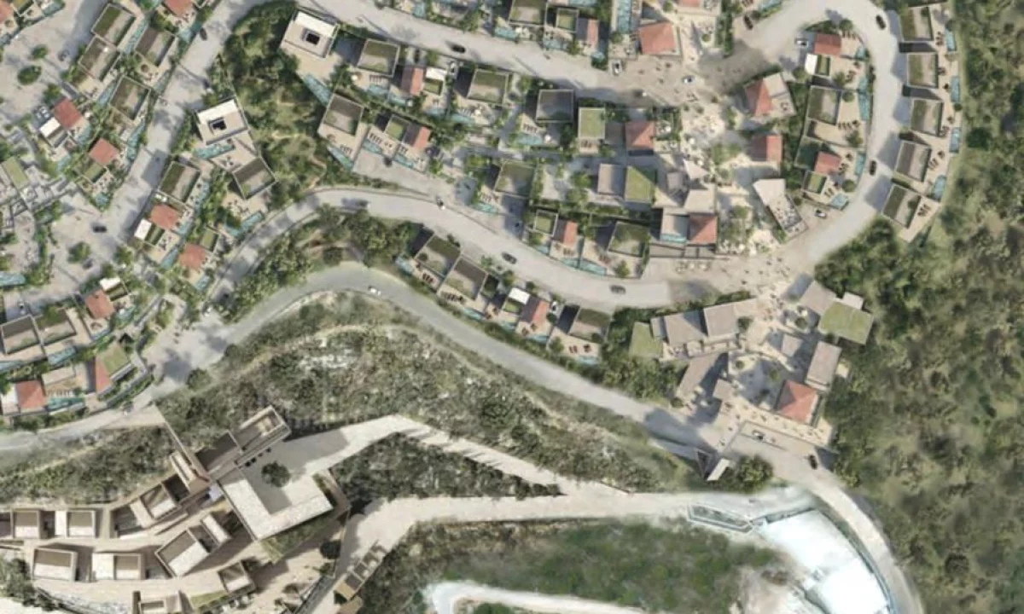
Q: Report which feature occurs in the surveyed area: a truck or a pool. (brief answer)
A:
pool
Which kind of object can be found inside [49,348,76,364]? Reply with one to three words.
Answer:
swimming pool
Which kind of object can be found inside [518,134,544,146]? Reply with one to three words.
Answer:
swimming pool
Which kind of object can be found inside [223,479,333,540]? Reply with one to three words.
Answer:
building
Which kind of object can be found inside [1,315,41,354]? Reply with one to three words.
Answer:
house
